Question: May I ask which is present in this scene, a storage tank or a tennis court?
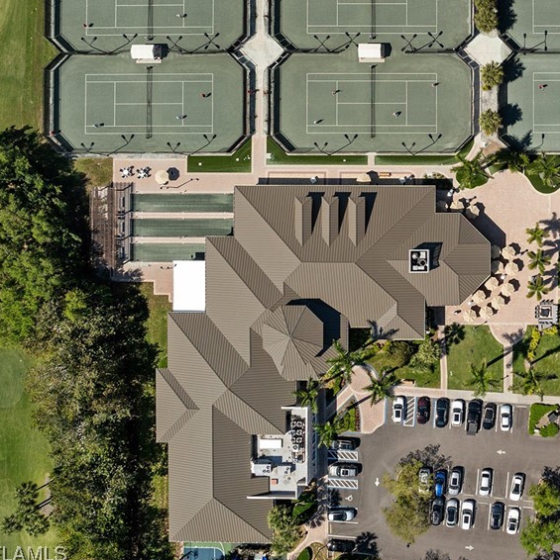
tennis court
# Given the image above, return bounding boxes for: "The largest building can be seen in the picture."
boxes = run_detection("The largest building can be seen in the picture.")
[155,185,491,543]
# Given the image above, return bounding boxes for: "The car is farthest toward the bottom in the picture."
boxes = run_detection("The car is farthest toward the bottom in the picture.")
[327,540,353,556]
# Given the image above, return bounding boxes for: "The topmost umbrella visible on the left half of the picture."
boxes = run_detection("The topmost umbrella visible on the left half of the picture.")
[154,169,169,184]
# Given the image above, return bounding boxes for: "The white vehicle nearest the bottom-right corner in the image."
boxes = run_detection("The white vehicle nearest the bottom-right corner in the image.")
[507,509,520,537]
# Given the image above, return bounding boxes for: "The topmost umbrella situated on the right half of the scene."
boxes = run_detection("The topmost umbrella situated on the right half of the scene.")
[358,171,372,185]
